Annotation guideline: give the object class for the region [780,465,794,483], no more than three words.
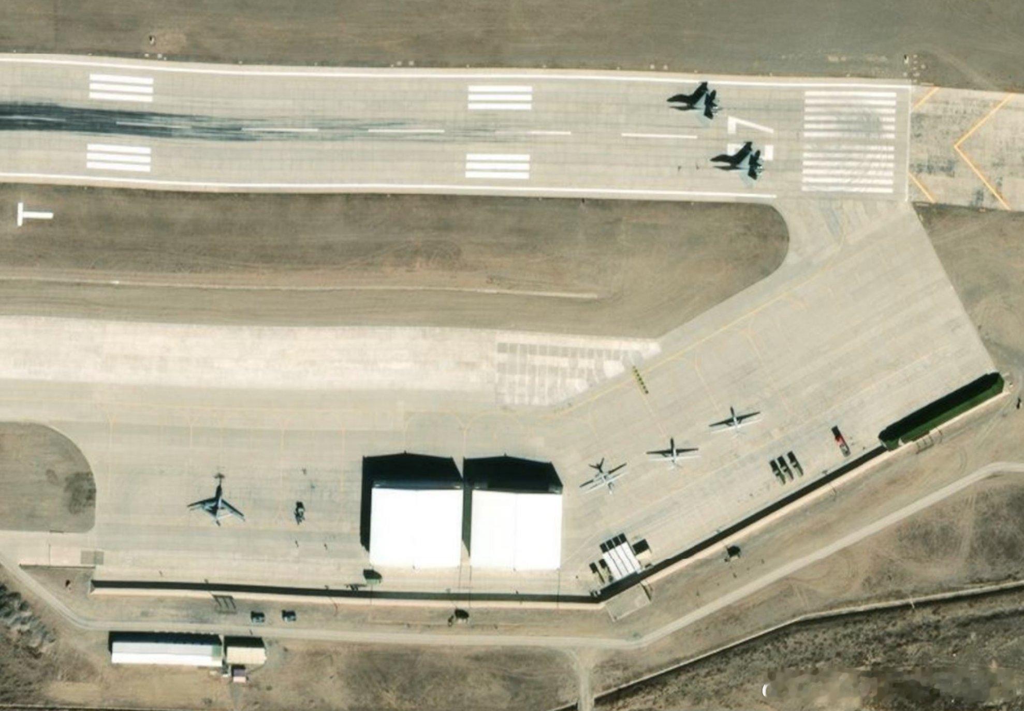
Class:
vehicle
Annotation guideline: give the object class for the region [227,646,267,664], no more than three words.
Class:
building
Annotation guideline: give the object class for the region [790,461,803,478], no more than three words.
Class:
vehicle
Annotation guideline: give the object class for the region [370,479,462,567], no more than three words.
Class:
hangar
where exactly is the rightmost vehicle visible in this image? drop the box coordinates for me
[834,436,851,458]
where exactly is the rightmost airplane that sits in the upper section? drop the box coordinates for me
[713,150,765,187]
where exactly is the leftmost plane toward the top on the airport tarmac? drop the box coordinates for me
[670,90,722,127]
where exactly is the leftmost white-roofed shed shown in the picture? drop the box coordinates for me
[112,640,222,666]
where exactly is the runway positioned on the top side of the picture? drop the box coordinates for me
[0,53,1024,211]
